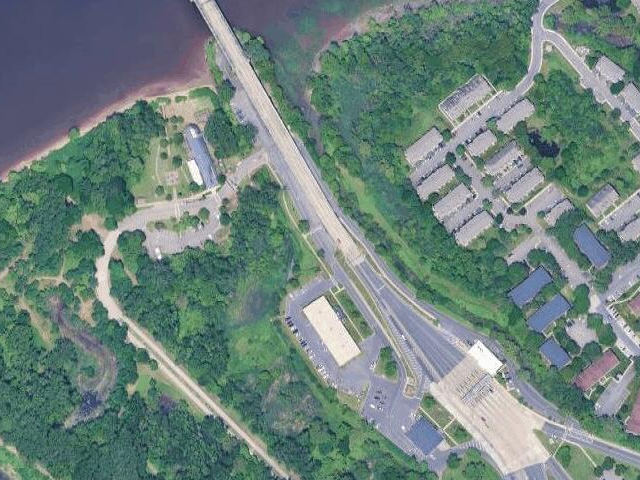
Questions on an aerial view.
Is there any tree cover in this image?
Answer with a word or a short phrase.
Yes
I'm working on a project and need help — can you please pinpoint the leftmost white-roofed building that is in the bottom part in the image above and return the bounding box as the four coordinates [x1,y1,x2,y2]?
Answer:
[303,296,361,367]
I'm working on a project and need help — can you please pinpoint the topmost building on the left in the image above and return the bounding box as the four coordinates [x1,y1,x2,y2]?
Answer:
[184,122,220,189]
